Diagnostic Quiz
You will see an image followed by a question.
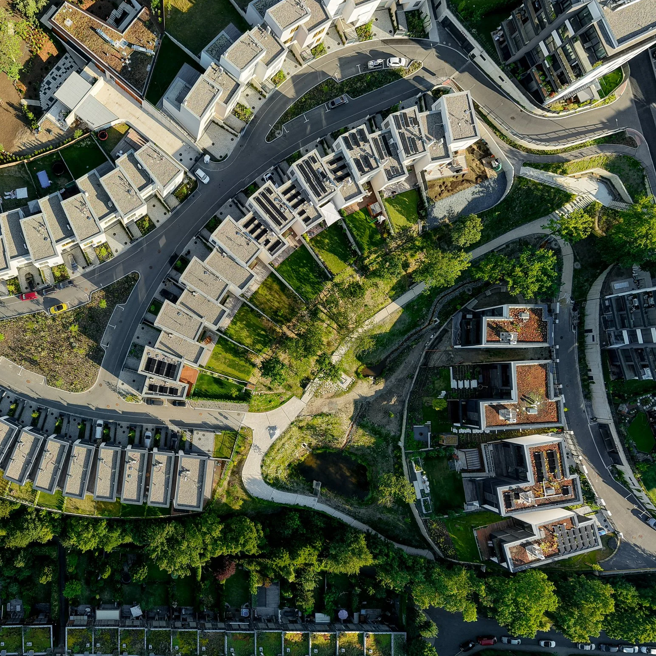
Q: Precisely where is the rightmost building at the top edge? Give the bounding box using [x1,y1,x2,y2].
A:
[487,0,656,111]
